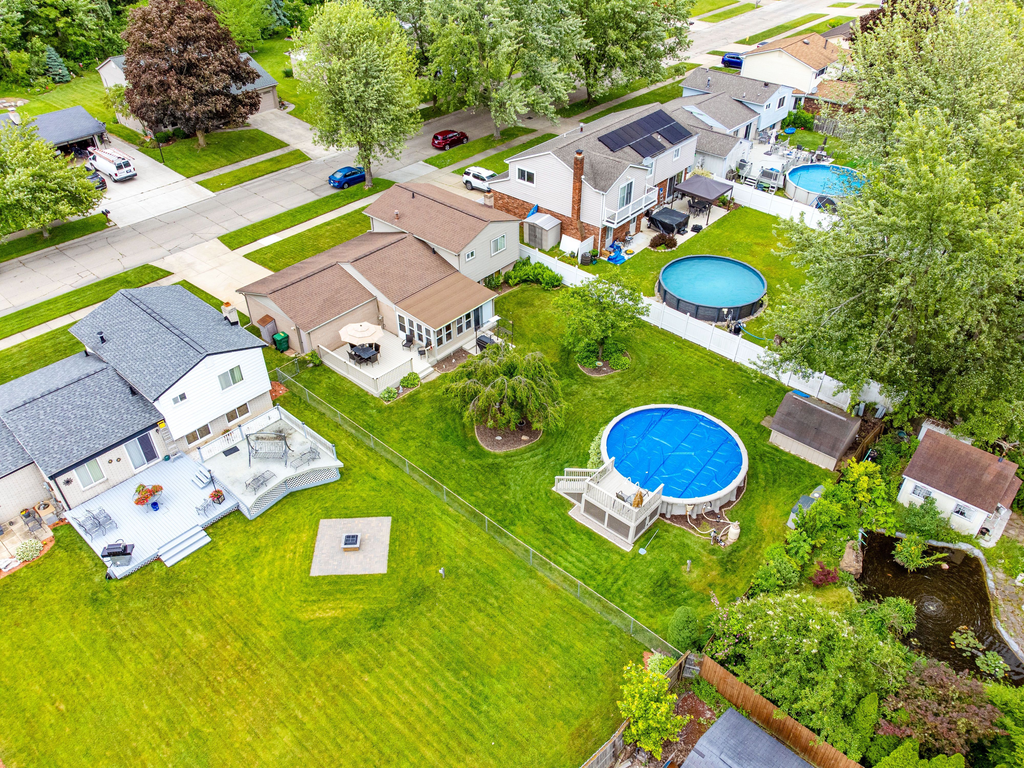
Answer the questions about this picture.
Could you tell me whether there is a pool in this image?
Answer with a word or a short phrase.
Yes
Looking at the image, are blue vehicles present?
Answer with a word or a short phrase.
Yes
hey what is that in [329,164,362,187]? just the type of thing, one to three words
car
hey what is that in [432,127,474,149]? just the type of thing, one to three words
car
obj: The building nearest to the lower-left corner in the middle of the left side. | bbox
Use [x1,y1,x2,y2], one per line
[0,285,275,523]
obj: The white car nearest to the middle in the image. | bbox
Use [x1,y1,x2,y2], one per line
[459,165,497,191]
